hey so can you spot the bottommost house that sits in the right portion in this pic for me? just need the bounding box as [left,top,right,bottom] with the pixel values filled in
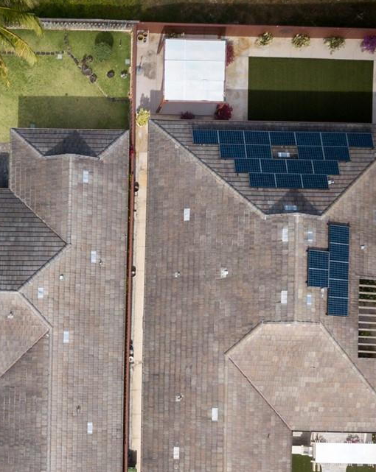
[141,119,376,472]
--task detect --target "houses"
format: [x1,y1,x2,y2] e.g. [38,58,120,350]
[0,127,131,472]
[141,119,376,472]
